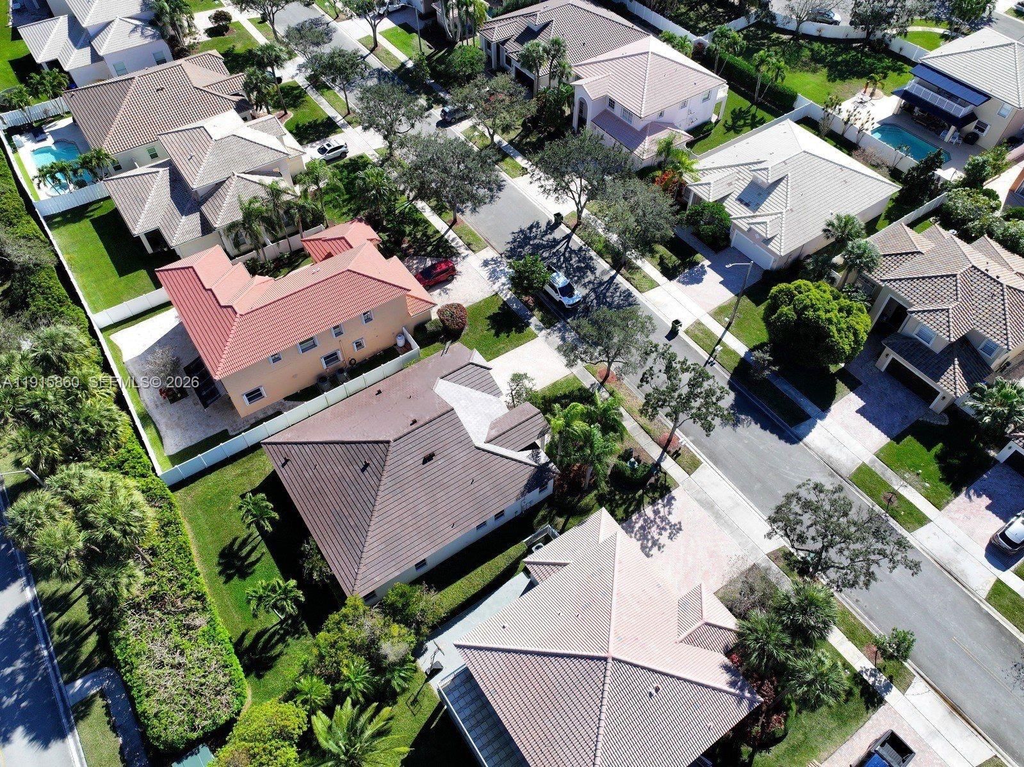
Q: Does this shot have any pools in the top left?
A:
Yes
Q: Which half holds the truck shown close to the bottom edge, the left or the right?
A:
right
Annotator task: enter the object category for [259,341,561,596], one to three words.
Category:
house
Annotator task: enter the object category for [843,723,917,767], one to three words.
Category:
truck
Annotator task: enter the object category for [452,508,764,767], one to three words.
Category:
house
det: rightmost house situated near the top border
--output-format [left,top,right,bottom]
[881,27,1024,154]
